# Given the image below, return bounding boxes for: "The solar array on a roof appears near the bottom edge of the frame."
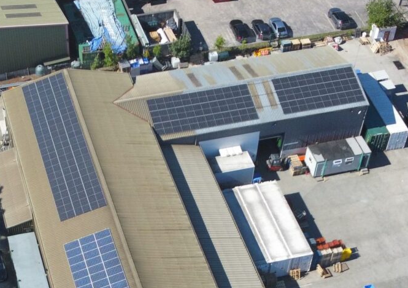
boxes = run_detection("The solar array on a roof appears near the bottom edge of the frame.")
[63,227,130,288]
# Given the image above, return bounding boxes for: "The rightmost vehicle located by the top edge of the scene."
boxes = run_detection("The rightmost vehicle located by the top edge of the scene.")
[329,8,353,30]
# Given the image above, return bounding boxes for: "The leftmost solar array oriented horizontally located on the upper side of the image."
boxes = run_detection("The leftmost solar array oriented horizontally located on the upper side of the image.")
[153,84,262,138]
